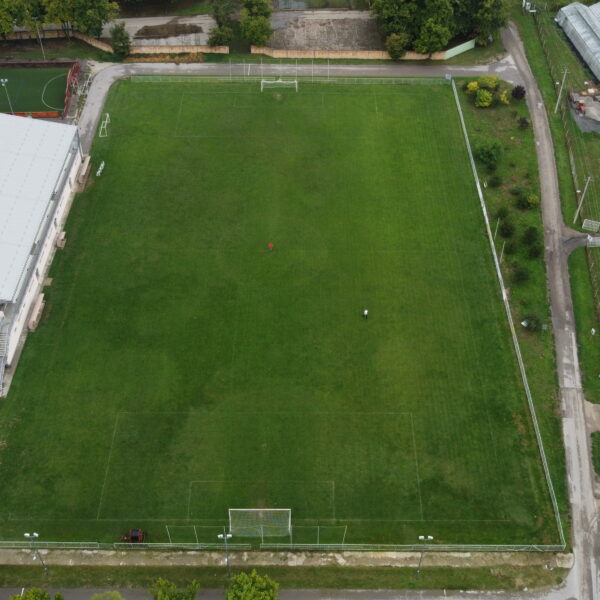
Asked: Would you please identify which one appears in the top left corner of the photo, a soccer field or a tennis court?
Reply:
soccer field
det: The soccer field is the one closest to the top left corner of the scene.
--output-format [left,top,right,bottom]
[0,66,67,117]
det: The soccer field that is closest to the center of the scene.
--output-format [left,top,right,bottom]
[0,79,564,554]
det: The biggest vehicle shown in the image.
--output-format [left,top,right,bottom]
[121,527,143,547]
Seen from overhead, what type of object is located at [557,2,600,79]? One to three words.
greenhouse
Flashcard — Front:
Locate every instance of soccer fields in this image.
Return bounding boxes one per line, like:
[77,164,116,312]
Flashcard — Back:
[0,79,564,554]
[0,66,67,117]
